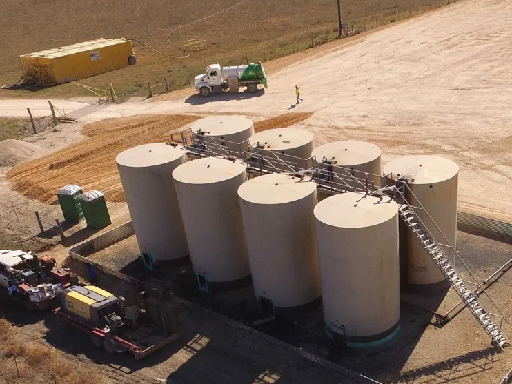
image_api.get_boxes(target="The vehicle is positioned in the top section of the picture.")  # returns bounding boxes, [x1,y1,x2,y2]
[190,57,274,96]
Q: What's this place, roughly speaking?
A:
industrial area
